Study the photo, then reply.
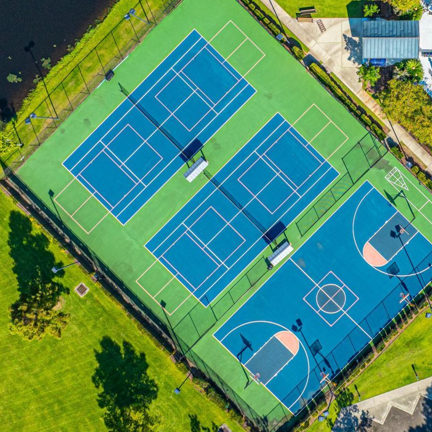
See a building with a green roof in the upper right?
No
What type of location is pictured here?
sports ground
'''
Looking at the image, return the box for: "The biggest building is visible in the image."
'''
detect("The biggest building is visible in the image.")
[362,19,420,62]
